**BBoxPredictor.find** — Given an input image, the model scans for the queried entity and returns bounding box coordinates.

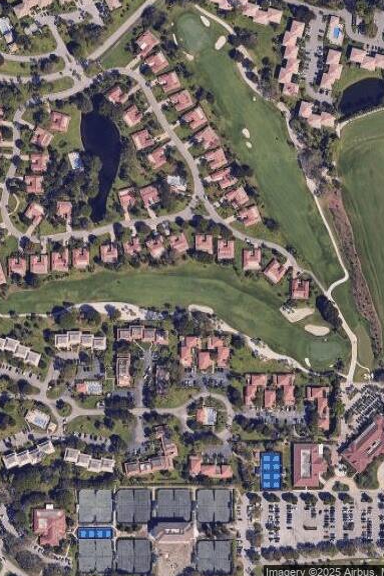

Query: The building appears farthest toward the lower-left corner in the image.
[33,505,66,547]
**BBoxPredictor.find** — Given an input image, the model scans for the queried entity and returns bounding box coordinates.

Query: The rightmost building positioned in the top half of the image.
[350,47,384,70]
